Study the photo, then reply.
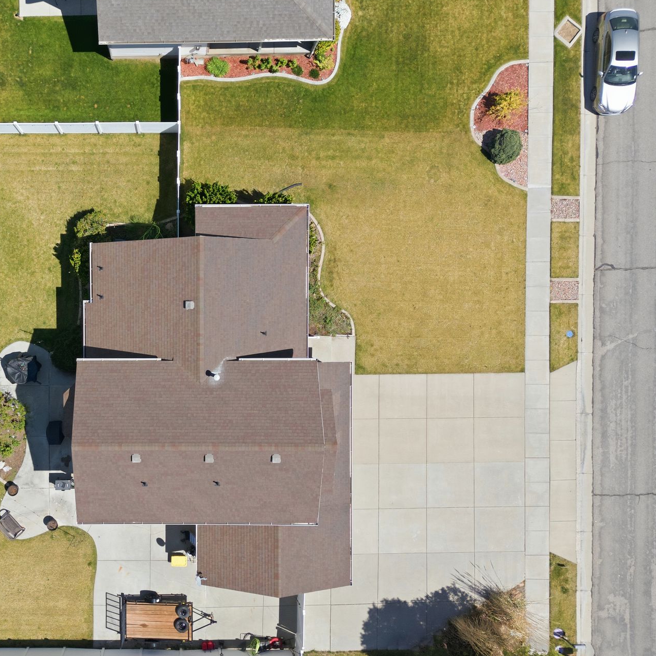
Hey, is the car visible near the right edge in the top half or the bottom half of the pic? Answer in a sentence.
It is in the top half that the car visible near the right edge appears.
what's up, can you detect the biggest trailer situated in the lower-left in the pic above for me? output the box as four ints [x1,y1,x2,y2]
[122,592,219,648]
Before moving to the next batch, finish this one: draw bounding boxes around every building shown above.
[65,202,355,598]
[96,0,338,61]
